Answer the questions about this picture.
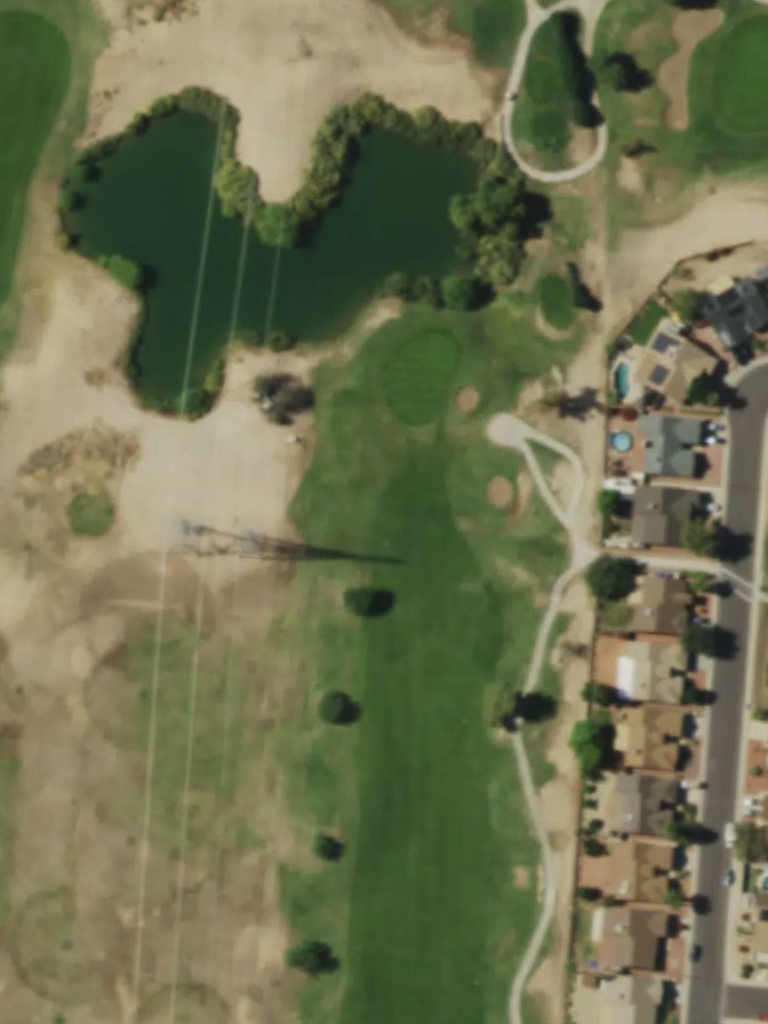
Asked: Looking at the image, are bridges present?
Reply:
No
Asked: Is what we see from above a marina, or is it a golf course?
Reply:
golf course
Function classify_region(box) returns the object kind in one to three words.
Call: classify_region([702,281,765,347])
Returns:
house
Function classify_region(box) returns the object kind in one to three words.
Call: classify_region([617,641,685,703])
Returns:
house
